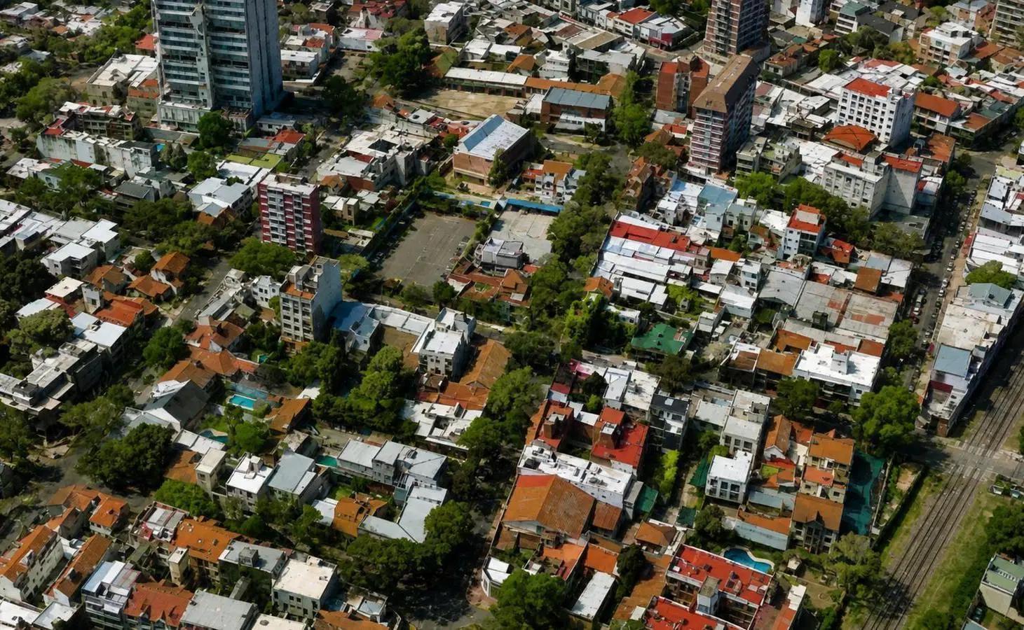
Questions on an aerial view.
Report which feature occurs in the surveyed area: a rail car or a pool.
pool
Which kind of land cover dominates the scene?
buildings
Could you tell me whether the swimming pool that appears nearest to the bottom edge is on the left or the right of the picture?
right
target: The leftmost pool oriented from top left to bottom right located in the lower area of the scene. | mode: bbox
[199,429,225,446]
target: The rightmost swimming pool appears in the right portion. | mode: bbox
[722,546,775,575]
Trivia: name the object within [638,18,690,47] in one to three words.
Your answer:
house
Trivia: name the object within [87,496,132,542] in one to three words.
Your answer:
house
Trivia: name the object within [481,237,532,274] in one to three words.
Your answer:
building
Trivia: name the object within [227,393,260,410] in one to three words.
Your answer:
swimming pool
